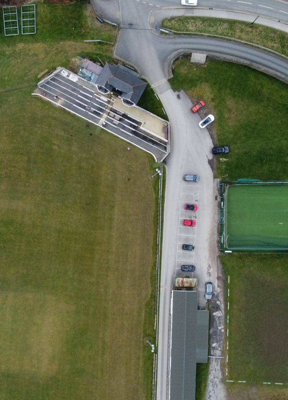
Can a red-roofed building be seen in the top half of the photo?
No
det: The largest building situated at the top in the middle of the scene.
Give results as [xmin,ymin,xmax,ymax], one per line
[96,62,148,108]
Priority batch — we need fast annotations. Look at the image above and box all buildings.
[188,53,207,66]
[96,62,148,108]
[168,290,209,400]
